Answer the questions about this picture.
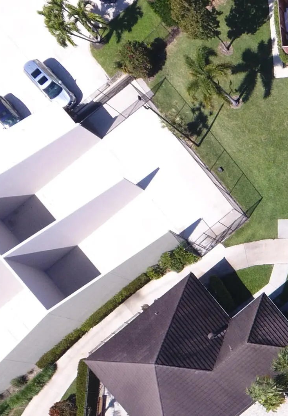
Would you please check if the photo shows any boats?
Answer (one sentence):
No, there's no boat here.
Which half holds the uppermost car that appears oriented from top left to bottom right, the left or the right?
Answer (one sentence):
You can find the uppermost car that appears oriented from top left to bottom right on the left side of the picture.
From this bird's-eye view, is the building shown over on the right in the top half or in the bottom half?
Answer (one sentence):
The building shown over on the right is in the bottom half of the image.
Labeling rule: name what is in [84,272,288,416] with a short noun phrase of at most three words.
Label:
building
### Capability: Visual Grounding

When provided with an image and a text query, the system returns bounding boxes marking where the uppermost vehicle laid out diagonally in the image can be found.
[20,52,70,105]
